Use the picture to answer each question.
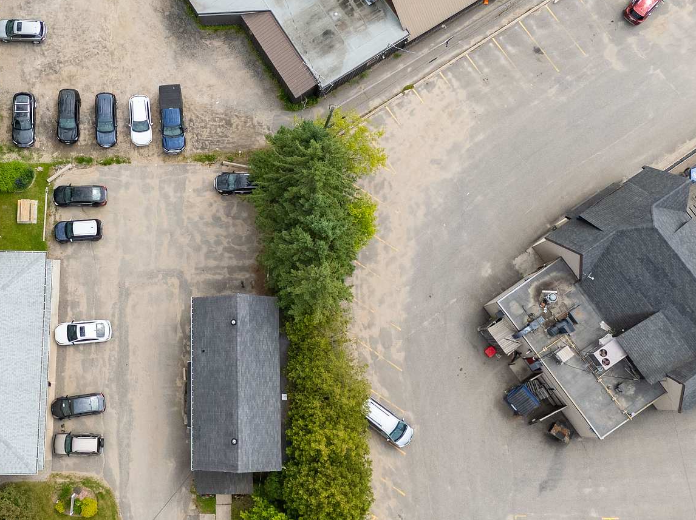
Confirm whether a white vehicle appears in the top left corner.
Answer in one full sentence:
Yes, the scene does show a white vehicle in the top left corner.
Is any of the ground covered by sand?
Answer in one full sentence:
No, the picture contains no sand.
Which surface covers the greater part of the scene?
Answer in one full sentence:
The largest share of the image is taken up by paved ground.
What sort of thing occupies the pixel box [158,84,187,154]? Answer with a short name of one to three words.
truck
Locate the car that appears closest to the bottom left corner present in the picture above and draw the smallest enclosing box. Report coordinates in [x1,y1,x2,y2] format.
[51,430,106,460]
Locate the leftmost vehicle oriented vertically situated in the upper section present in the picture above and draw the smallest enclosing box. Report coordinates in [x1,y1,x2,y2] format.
[9,92,36,148]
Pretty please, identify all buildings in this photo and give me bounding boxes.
[181,0,492,102]
[484,166,696,439]
[187,294,286,494]
[0,250,52,476]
